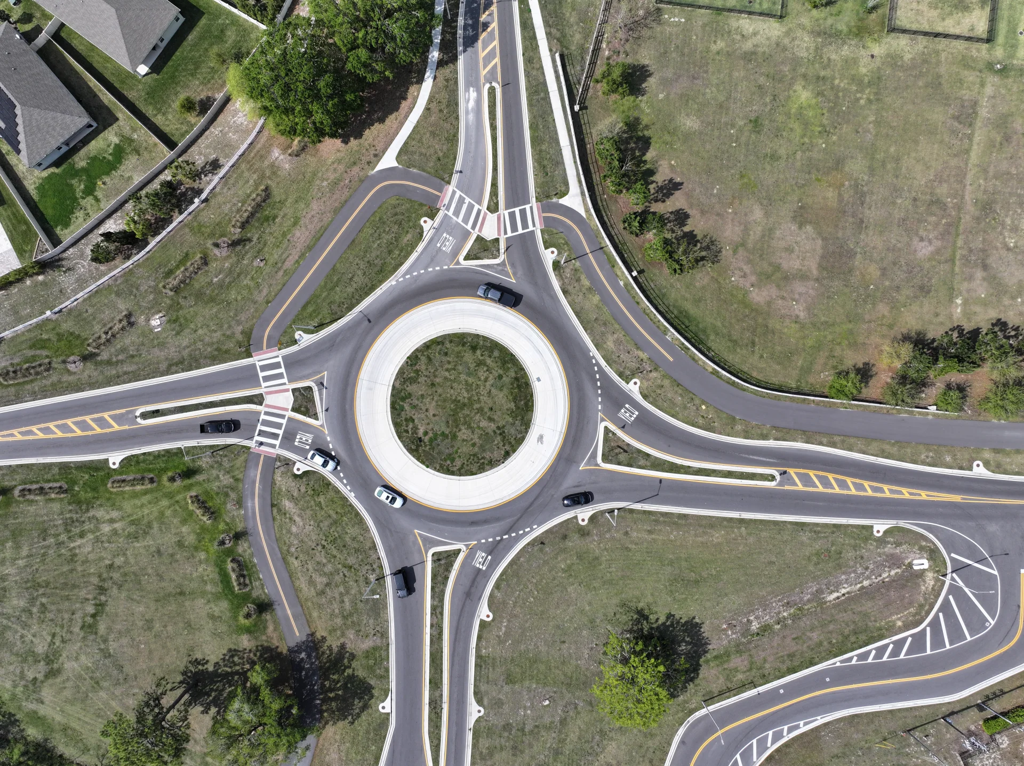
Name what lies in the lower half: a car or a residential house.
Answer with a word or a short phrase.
car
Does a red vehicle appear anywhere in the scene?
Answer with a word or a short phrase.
No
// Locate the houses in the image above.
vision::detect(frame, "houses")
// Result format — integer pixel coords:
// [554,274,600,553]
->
[34,0,185,81]
[0,7,100,170]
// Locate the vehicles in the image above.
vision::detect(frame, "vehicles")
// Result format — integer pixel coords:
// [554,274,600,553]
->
[197,420,234,436]
[394,569,412,600]
[478,285,515,308]
[306,449,338,472]
[562,492,593,508]
[372,487,404,509]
